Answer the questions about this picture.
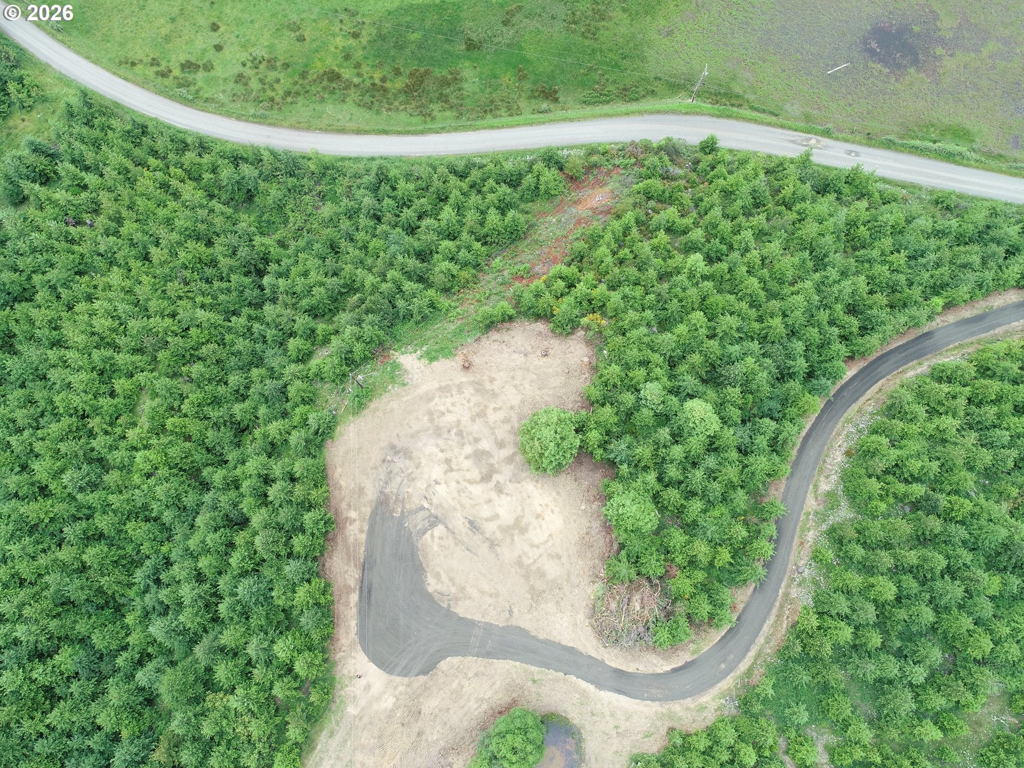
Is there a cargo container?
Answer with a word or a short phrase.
No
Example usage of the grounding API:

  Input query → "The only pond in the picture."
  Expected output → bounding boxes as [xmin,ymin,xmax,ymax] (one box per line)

[531,713,583,768]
